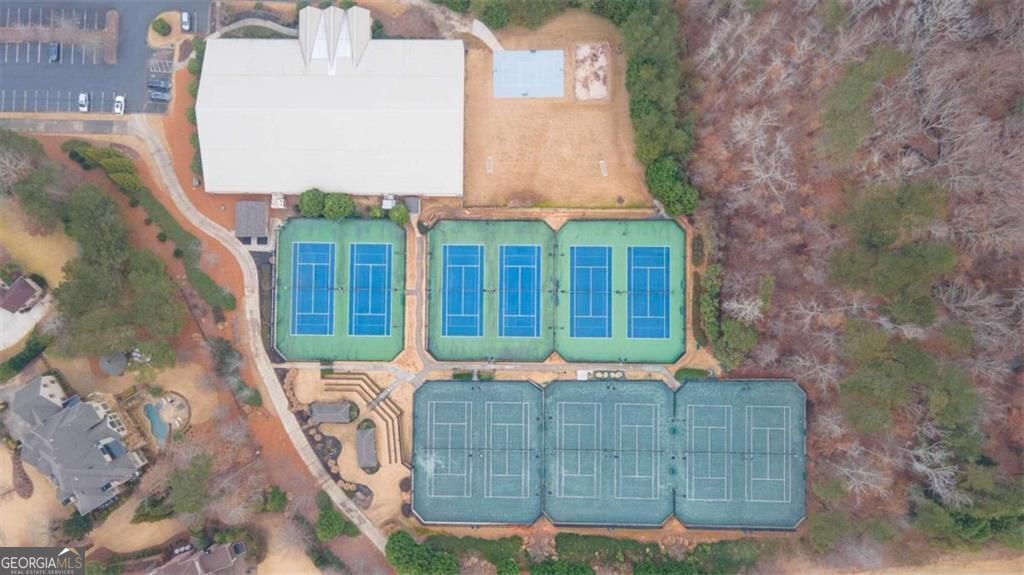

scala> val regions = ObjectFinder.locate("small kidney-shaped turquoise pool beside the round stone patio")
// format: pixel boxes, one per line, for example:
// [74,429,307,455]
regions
[144,401,170,443]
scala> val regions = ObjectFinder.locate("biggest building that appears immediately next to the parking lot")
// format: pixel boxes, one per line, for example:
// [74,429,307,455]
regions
[195,5,463,197]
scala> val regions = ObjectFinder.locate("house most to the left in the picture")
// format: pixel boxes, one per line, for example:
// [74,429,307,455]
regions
[0,274,51,318]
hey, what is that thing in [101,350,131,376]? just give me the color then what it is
gray gazebo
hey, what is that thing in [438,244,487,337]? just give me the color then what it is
blue tennis court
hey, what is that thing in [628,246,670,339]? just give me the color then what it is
blue tennis court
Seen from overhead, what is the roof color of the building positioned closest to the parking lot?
white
